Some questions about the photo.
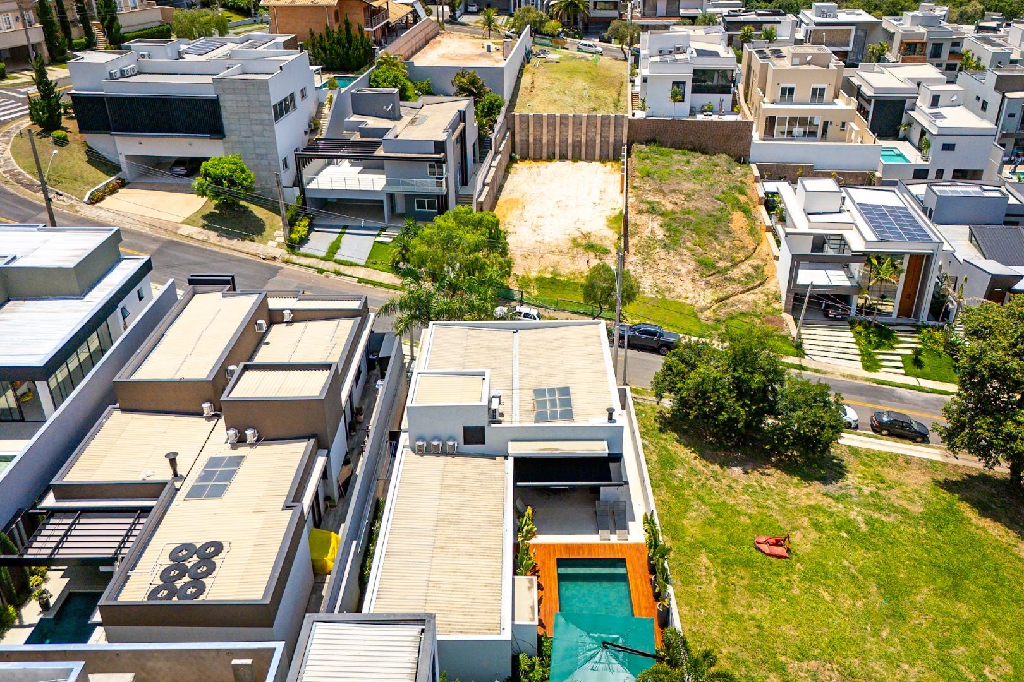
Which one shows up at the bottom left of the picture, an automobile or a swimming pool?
swimming pool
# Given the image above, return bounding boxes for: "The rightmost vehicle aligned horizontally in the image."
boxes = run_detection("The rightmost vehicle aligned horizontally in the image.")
[867,410,936,444]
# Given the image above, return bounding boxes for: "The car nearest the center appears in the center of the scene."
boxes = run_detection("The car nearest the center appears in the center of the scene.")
[496,298,540,319]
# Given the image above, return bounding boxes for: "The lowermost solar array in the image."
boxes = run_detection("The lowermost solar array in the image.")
[857,202,933,241]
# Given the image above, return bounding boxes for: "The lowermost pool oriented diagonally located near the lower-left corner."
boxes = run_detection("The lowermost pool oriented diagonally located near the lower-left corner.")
[12,581,111,646]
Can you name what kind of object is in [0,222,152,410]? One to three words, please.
house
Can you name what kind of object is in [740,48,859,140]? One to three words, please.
house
